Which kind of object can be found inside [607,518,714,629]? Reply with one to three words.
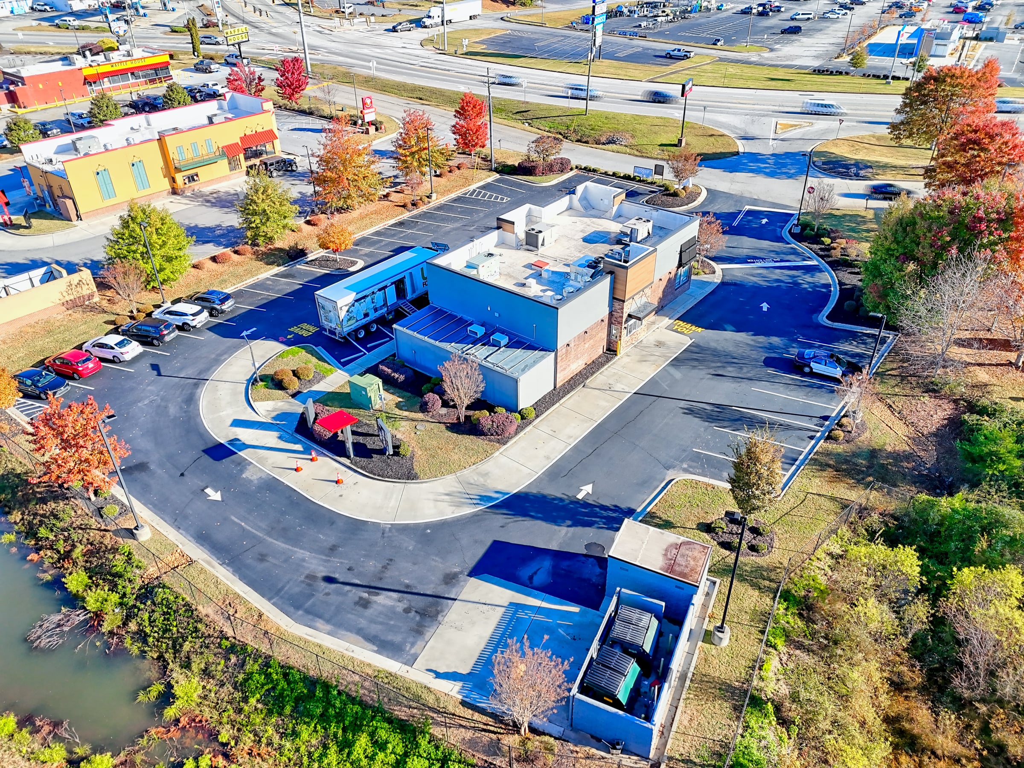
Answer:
shed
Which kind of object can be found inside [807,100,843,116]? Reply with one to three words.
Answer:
vehicle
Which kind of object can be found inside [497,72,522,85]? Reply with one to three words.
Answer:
vehicle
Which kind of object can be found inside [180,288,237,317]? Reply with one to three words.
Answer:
car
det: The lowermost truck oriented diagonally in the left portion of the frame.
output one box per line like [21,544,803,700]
[314,244,447,344]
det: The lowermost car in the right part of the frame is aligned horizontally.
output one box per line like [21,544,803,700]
[794,347,865,381]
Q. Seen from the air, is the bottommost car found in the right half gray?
No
